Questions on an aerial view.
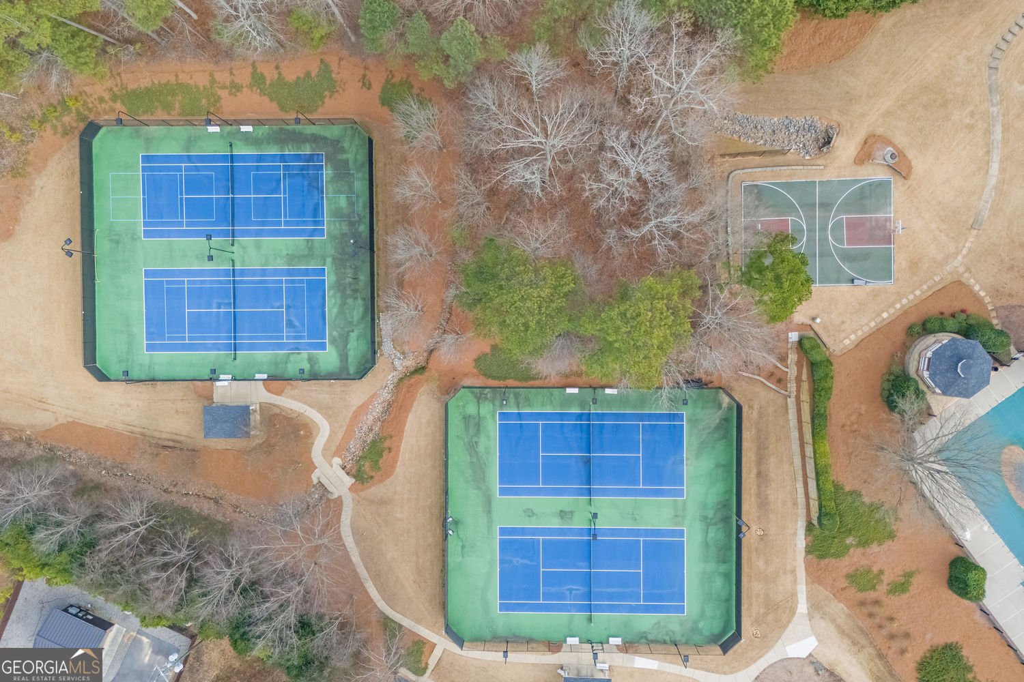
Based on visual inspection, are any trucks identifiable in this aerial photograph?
No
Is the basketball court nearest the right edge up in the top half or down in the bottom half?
top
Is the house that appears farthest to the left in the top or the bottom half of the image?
bottom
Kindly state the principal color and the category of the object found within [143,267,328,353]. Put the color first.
blue tennis court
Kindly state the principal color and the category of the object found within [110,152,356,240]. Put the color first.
blue tennis court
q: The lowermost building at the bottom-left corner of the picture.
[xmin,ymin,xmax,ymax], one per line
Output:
[33,606,114,682]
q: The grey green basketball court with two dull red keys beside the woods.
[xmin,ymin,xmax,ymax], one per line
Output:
[742,178,894,286]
